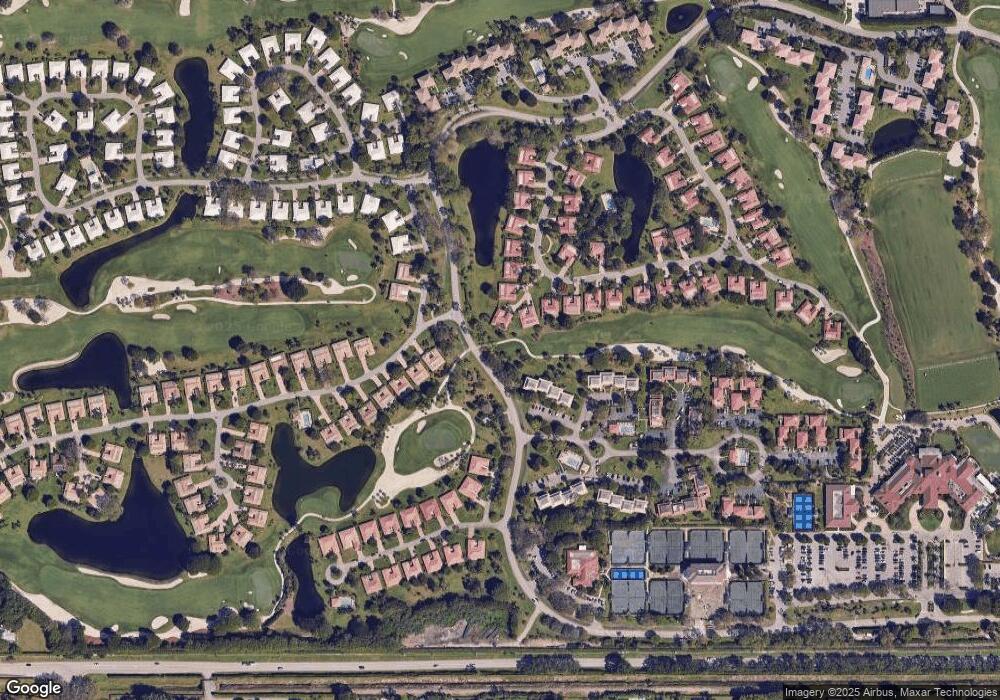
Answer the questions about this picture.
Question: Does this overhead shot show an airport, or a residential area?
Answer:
residential area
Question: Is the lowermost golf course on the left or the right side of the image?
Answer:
left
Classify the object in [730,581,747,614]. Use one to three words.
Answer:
tennis court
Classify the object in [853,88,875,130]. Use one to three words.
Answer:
building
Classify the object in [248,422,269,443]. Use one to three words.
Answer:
house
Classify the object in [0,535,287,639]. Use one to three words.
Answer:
golf course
